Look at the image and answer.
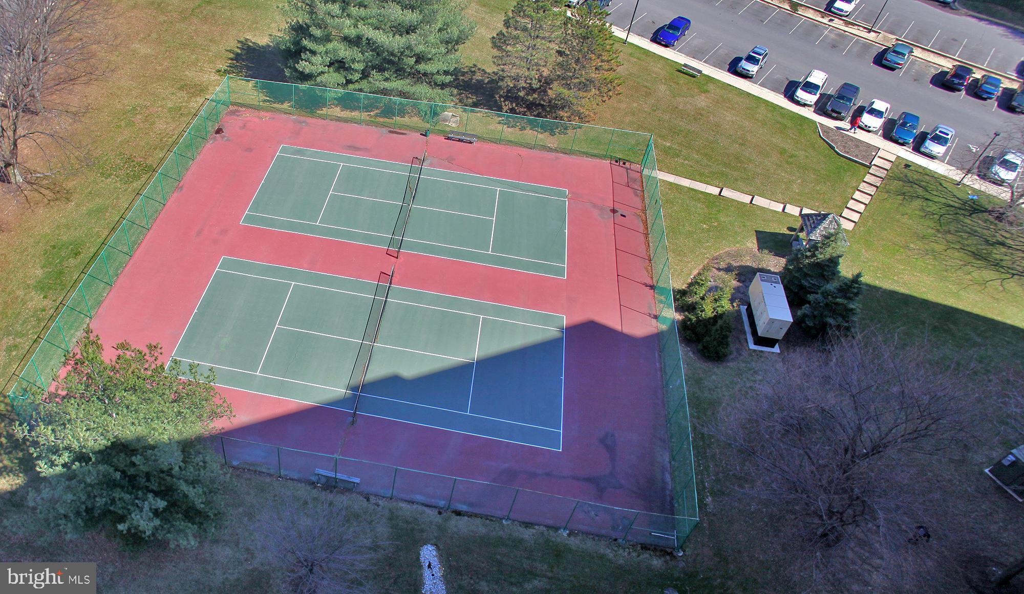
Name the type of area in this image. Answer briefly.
sports ground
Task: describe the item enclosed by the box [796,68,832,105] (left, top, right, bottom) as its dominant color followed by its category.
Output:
white car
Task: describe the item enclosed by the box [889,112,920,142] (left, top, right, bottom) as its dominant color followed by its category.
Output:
blue car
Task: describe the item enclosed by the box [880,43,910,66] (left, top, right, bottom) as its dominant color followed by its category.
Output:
blue car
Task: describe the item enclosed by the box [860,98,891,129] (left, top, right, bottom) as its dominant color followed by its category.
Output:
white car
